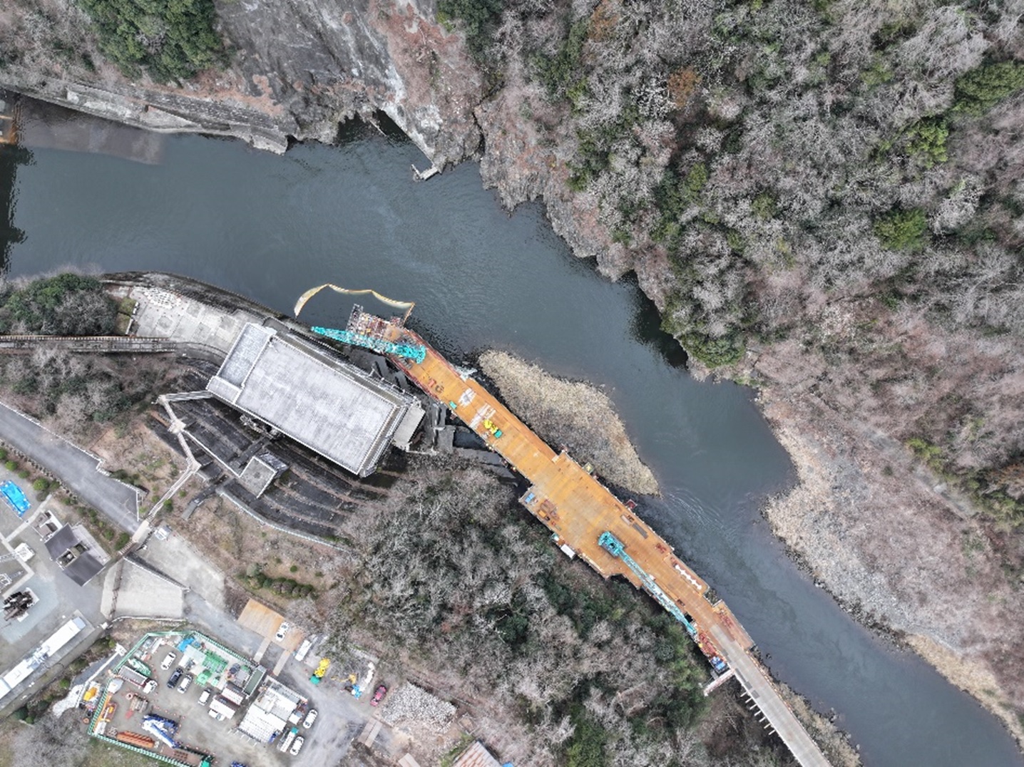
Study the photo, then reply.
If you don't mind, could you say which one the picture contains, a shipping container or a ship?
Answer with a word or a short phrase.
shipping container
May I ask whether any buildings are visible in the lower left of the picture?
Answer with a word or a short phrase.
Yes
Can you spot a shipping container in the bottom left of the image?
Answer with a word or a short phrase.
Yes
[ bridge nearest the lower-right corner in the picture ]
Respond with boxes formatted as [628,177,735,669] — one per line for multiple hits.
[710,623,831,767]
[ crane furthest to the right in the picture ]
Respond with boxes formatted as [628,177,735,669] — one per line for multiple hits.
[597,529,697,636]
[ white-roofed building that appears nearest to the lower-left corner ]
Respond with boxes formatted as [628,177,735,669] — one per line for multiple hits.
[0,613,96,708]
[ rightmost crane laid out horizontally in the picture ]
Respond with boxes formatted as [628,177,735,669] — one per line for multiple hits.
[312,327,429,364]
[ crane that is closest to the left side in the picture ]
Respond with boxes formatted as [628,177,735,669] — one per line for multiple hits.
[138,707,178,751]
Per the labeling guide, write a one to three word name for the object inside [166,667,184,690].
car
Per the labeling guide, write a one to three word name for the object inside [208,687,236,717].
shed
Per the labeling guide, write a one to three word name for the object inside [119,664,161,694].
truck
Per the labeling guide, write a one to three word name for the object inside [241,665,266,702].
shipping container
